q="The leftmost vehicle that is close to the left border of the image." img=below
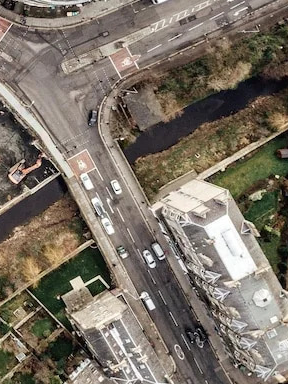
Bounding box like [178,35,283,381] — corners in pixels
[7,148,50,186]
